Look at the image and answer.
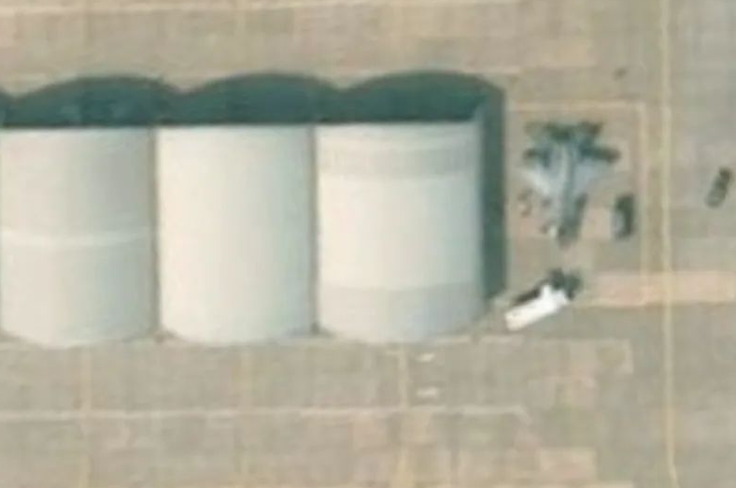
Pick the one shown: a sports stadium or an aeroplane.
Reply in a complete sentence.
Visible in the photo is an aeroplane.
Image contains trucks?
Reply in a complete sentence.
Yes, looking at the shot, I can spot a truck.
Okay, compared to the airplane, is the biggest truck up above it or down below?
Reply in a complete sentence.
Relative to the airplane, the biggest truck lies below it.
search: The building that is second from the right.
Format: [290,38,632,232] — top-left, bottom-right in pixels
[157,119,319,342]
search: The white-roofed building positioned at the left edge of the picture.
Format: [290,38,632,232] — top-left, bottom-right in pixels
[0,120,162,344]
